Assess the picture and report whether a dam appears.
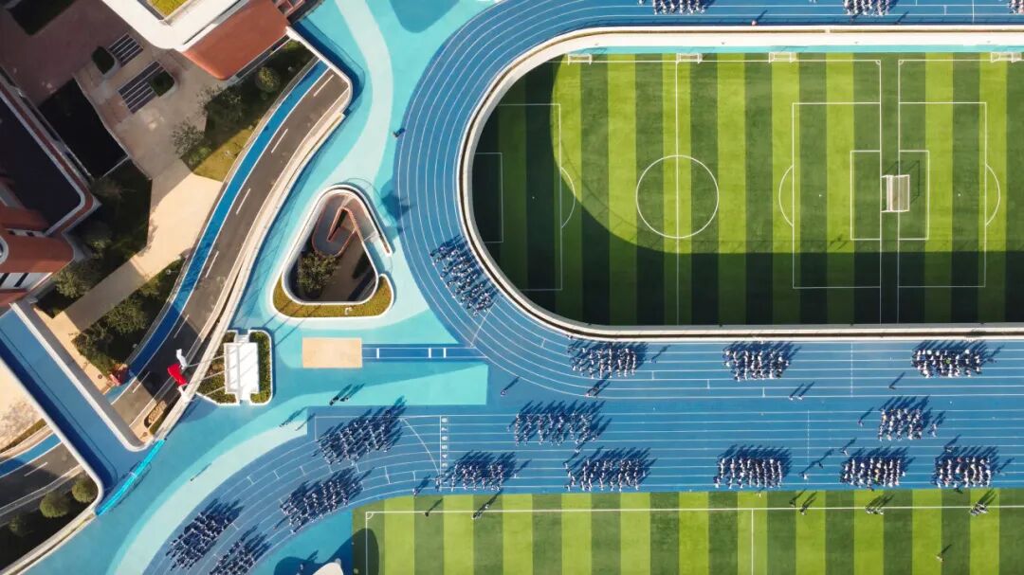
No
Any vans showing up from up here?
No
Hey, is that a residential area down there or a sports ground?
sports ground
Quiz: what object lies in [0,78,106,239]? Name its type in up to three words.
building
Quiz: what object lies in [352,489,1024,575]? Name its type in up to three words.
sports field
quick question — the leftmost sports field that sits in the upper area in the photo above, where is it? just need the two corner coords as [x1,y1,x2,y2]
[472,54,881,328]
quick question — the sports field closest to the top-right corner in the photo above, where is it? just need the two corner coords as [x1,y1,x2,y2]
[881,54,1024,327]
